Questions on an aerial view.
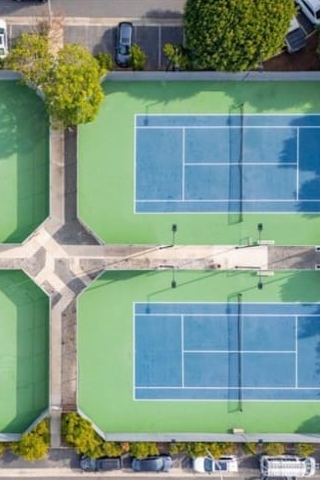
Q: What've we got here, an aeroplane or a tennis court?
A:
tennis court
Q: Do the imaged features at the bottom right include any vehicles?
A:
Yes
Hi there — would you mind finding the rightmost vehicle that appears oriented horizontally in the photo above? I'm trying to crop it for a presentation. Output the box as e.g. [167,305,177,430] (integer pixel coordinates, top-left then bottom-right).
[259,456,316,480]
